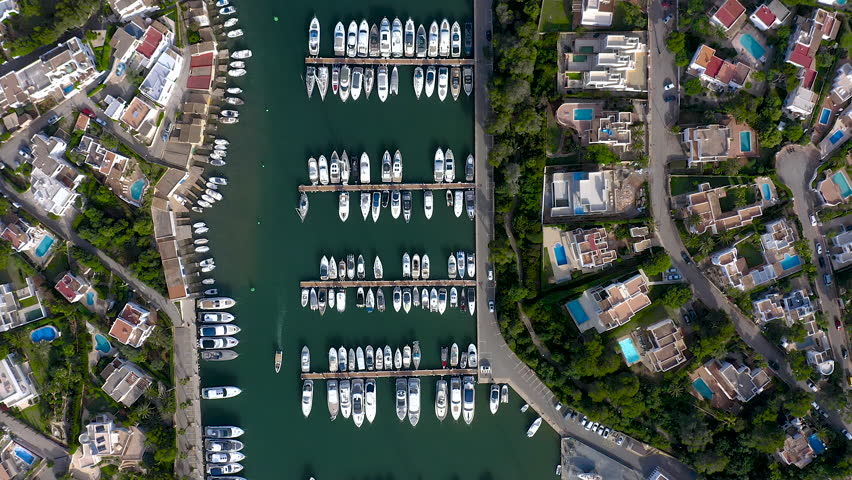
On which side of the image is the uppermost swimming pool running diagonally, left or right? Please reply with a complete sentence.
The uppermost swimming pool running diagonally sits on the right side.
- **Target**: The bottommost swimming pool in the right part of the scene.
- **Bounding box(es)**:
[808,433,826,455]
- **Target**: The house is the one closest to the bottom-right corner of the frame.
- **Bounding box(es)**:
[770,417,815,470]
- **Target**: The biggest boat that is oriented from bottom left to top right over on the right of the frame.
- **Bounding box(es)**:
[526,418,541,437]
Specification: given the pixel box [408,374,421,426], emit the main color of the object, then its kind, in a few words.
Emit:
white boat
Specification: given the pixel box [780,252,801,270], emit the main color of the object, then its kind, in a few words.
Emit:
blue swimming pool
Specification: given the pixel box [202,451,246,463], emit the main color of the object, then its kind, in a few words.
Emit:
white boat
